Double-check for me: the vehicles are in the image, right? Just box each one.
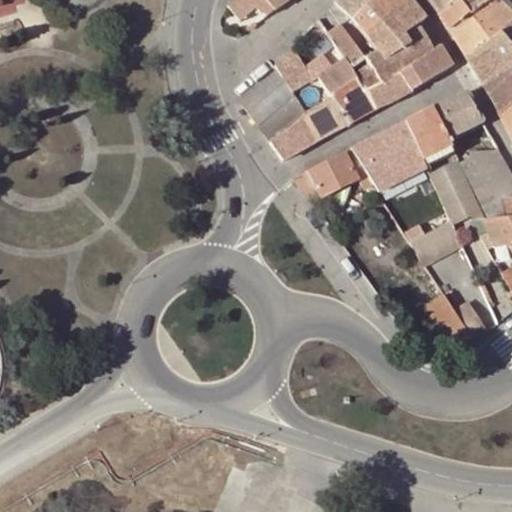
[230,78,252,98]
[230,196,240,216]
[340,257,362,281]
[141,315,152,338]
[248,58,275,83]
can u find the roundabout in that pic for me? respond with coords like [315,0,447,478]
[114,242,298,426]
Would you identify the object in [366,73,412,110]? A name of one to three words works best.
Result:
house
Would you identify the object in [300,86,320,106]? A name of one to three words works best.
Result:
swimming pool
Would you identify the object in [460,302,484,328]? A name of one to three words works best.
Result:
shed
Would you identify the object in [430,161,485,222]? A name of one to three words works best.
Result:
barn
